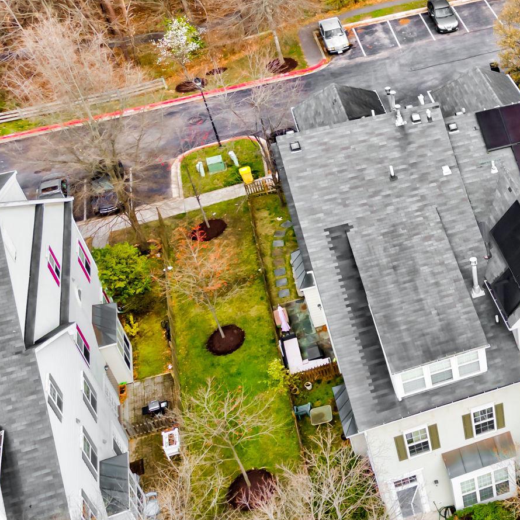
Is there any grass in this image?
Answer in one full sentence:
Yes, some grass is visible.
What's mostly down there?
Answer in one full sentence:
The bulk of the photo consists of buildings.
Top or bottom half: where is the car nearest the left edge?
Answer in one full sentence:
The car nearest the left edge is in the top half of the image.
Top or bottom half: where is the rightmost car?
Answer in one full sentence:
The rightmost car is in the top half of the image.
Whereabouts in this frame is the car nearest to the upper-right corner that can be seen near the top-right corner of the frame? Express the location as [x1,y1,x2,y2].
[424,0,460,33]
